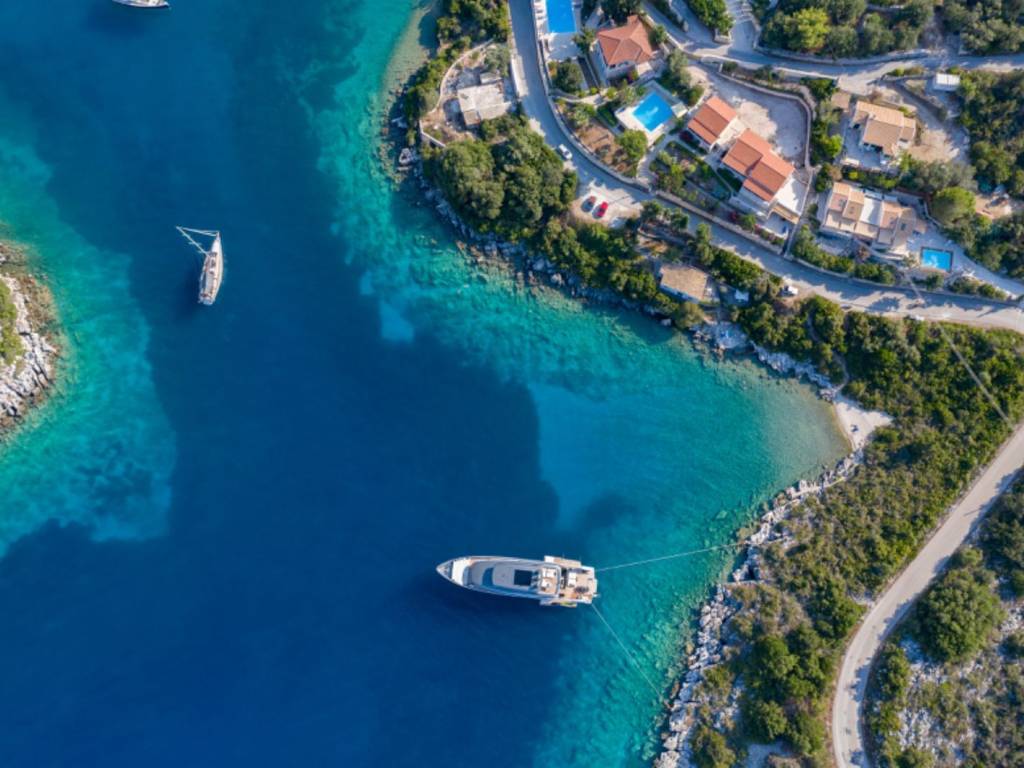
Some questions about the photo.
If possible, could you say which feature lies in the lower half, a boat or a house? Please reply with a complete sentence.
Looking in the lower half, you will find a boat.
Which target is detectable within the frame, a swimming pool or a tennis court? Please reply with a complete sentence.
It is a swimming pool that can be seen here.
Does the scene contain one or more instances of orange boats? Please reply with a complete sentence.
No, no orange boat is visible in the view.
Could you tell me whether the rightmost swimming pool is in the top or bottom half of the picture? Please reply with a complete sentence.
The top half of the photo is where the rightmost swimming pool is.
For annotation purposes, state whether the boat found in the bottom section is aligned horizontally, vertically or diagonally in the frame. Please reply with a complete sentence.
The boat found in the bottom section runs horizontally in the image.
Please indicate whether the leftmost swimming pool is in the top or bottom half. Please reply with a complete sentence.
Seen from above, the leftmost swimming pool lies in the top half of the view.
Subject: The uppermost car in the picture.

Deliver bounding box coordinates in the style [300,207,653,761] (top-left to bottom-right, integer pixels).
[558,144,572,161]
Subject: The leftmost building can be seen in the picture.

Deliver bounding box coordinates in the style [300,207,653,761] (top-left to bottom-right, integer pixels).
[458,73,511,128]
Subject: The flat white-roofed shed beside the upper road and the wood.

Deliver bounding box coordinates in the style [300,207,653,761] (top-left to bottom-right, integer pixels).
[931,73,960,92]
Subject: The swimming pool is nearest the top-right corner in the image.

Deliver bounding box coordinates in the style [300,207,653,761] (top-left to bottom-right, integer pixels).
[915,244,957,278]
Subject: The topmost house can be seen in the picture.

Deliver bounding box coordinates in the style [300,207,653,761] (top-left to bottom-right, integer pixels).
[597,16,653,81]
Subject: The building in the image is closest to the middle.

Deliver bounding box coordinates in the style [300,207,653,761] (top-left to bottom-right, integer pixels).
[660,266,707,301]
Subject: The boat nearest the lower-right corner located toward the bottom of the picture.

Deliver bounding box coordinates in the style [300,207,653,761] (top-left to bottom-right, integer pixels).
[436,555,598,607]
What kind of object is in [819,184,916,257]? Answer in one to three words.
house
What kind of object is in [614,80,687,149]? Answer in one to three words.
swimming pool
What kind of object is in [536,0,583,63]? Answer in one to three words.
swimming pool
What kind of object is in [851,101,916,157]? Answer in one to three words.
house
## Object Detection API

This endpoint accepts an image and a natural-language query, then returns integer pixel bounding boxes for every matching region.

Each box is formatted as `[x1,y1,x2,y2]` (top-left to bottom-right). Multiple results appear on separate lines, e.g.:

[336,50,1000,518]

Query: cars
[597,202,608,219]
[558,144,572,161]
[586,194,597,211]
[909,312,924,322]
[782,285,800,296]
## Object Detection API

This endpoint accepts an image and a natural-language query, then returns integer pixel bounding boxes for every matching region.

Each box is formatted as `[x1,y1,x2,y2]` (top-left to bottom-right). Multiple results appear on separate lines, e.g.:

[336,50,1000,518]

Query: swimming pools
[536,0,583,63]
[915,244,957,278]
[614,80,687,149]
